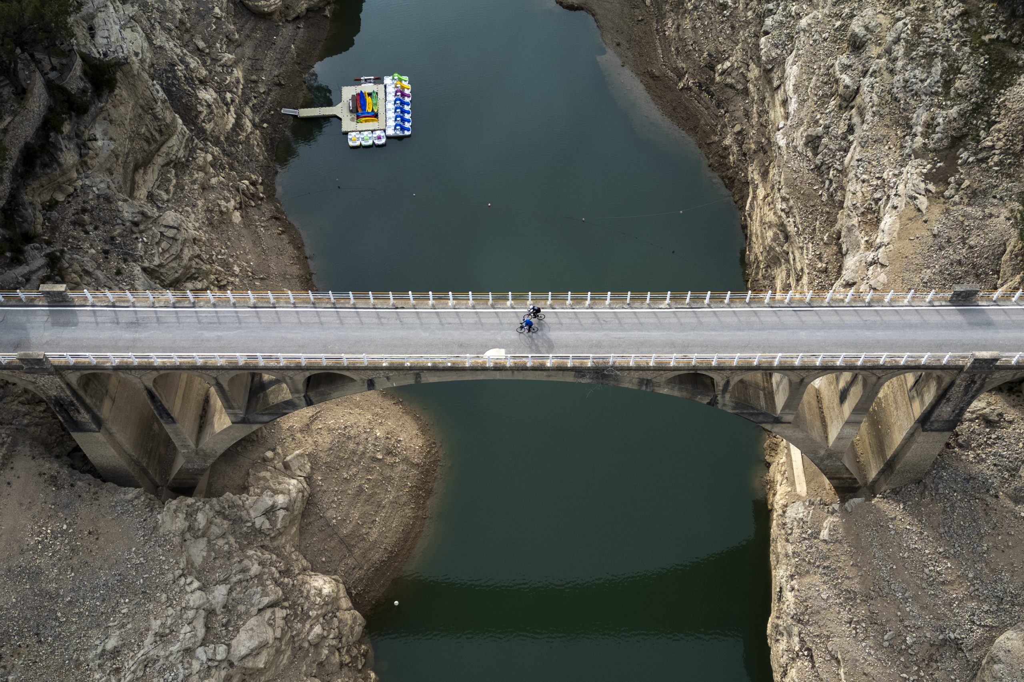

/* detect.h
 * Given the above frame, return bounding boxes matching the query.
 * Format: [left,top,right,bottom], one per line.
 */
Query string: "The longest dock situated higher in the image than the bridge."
[298,84,386,133]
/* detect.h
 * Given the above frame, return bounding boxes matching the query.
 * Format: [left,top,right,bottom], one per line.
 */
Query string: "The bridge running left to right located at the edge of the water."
[0,282,1024,504]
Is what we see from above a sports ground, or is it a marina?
marina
